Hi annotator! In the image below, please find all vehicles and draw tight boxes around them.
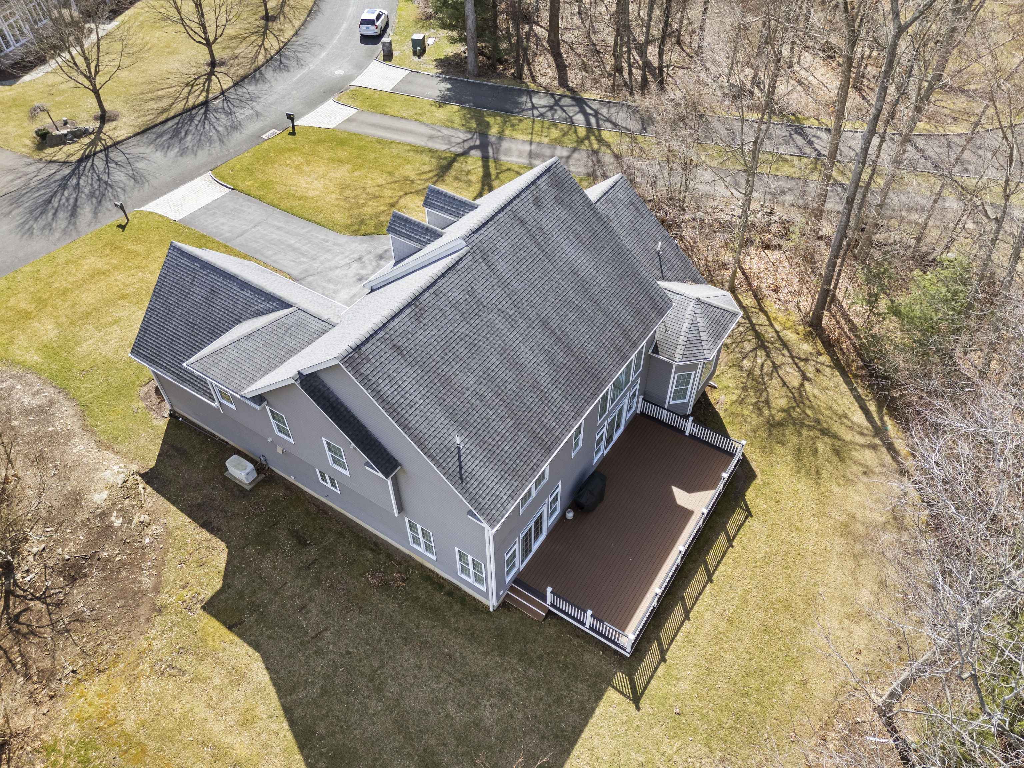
[359,9,391,39]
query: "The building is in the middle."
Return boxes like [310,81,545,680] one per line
[126,157,745,613]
